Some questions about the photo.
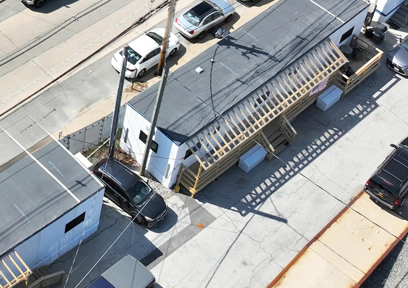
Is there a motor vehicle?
Yes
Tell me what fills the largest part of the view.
paved ground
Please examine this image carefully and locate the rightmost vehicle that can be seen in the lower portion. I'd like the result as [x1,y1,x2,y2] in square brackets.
[363,131,408,218]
